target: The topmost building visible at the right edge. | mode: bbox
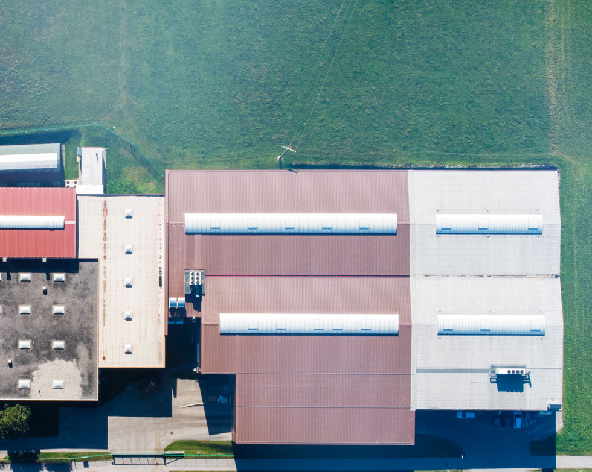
[409,170,563,411]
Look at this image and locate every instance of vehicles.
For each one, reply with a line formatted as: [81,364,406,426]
[456,411,474,420]
[513,411,523,429]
